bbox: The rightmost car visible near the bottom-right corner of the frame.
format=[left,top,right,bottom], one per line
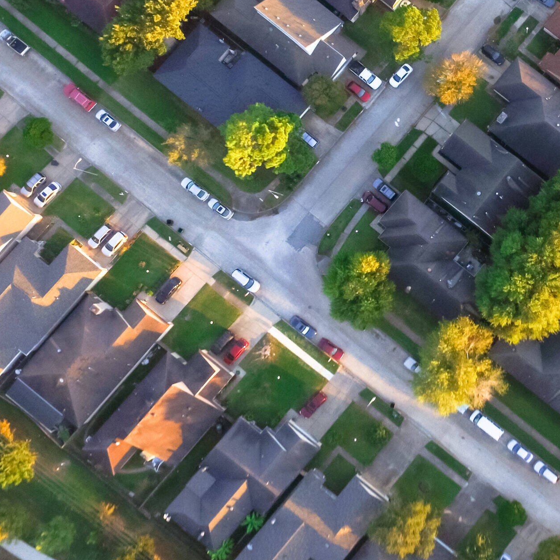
[532,459,560,487]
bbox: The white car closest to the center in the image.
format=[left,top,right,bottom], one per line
[228,268,259,292]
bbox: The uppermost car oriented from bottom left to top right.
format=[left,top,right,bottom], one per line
[387,63,414,90]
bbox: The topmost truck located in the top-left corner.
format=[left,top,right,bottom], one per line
[0,28,33,57]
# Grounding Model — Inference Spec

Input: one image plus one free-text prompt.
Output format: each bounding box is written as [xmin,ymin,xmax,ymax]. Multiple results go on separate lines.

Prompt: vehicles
[316,336,347,360]
[94,107,124,133]
[228,268,259,292]
[360,189,389,215]
[500,549,515,560]
[33,181,62,208]
[153,277,182,305]
[387,63,414,90]
[222,337,250,365]
[85,222,116,250]
[100,230,129,258]
[506,439,535,465]
[479,42,508,68]
[66,84,96,110]
[19,173,49,200]
[205,197,235,222]
[0,28,33,57]
[348,59,382,91]
[181,177,210,202]
[206,327,234,355]
[303,126,325,153]
[532,459,560,487]
[289,314,320,339]
[299,392,328,418]
[345,78,373,104]
[370,176,399,202]
[472,412,505,444]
